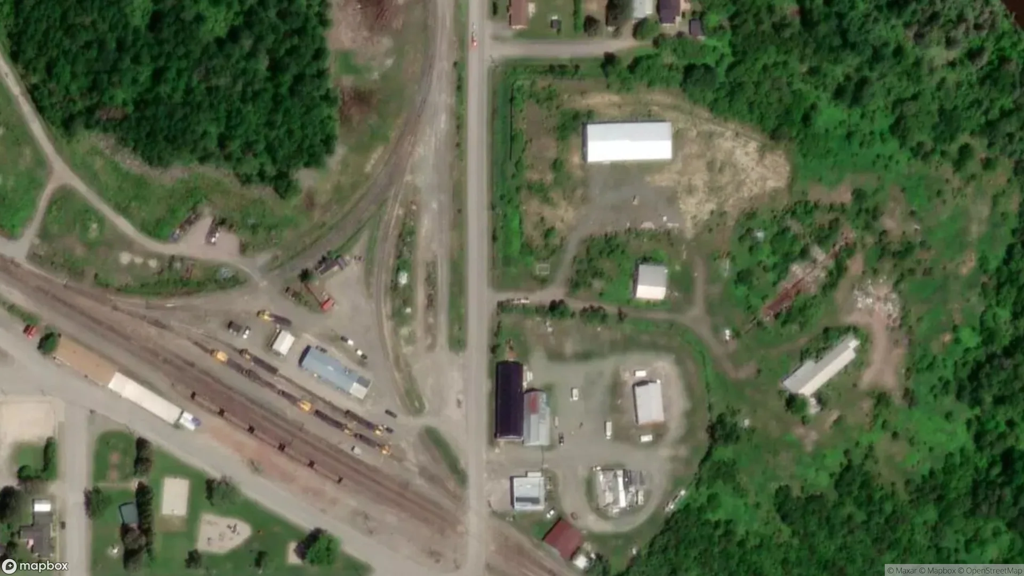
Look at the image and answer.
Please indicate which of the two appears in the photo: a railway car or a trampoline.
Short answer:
railway car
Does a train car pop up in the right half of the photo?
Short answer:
No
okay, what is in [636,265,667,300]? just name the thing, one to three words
shed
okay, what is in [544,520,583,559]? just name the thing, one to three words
barn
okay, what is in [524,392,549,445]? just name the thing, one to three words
building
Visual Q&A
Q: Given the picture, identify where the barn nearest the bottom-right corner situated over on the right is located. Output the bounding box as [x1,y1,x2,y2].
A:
[783,337,860,396]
